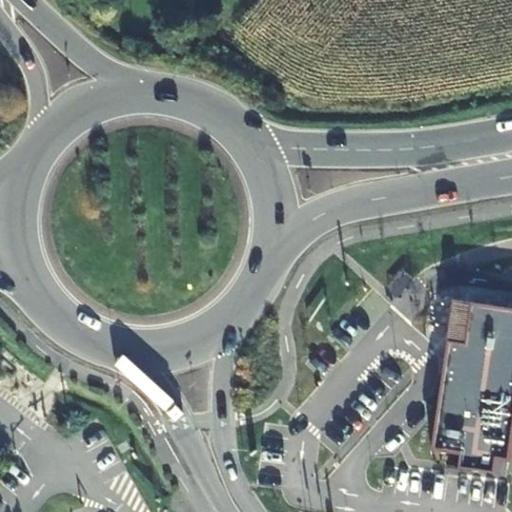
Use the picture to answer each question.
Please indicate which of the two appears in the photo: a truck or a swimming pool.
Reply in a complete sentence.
This aerial view contains a truck.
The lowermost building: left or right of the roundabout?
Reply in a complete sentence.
Relative to the roundabout, the lowermost building is on the right.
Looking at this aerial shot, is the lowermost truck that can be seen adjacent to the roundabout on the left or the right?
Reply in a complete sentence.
The lowermost truck that can be seen adjacent to the roundabout sits on the left side.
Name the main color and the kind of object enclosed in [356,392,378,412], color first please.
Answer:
white car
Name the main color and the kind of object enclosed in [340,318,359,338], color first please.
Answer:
white car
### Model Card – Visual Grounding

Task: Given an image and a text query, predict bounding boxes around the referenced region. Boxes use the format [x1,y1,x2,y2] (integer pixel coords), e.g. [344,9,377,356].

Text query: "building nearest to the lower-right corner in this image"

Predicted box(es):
[432,300,512,477]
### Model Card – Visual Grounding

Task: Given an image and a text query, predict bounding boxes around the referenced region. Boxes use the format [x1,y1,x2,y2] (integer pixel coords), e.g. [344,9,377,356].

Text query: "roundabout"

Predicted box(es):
[0,72,291,368]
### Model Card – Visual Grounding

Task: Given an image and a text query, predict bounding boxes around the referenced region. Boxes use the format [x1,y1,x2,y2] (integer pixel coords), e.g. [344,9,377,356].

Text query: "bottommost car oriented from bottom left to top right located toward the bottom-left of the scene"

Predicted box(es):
[96,452,116,470]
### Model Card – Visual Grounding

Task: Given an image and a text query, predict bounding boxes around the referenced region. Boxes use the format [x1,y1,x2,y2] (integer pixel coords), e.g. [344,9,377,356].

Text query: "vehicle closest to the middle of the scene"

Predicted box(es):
[248,250,261,274]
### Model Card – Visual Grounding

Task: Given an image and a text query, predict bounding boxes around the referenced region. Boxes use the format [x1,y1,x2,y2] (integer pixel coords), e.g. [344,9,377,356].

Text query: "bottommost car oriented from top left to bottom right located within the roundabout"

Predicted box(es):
[78,312,101,330]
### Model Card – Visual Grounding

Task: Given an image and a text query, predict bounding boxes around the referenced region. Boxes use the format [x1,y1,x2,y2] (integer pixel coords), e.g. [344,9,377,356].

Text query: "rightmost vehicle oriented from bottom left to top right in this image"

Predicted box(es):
[408,407,426,430]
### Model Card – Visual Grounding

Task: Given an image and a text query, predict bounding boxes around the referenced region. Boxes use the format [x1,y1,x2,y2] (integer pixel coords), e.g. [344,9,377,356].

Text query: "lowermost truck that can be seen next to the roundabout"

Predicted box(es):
[114,356,184,421]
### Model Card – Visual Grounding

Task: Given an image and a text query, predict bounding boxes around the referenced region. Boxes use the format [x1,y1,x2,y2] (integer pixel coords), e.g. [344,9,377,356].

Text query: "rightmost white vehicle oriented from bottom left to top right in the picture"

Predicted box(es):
[384,434,406,452]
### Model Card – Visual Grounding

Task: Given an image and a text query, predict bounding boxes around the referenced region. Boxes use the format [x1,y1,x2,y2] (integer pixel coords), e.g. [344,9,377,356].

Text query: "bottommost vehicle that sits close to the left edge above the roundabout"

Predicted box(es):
[19,47,34,68]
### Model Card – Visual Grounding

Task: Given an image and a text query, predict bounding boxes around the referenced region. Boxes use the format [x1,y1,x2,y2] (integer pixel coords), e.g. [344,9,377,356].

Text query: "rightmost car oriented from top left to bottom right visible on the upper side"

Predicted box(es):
[244,112,265,129]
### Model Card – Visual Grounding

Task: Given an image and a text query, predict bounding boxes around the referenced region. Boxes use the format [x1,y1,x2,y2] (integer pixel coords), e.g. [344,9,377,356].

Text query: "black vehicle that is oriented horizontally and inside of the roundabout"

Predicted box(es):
[154,89,178,101]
